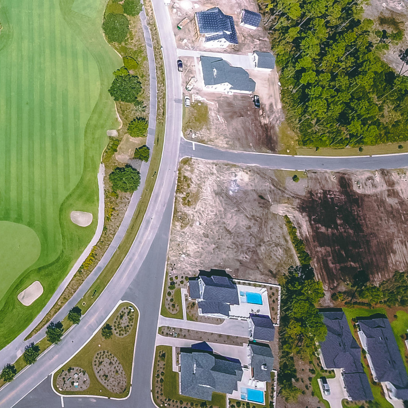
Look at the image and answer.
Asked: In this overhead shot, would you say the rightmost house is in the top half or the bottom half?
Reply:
bottom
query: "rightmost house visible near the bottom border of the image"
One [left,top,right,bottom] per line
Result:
[356,319,408,407]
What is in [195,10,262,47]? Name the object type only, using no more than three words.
house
